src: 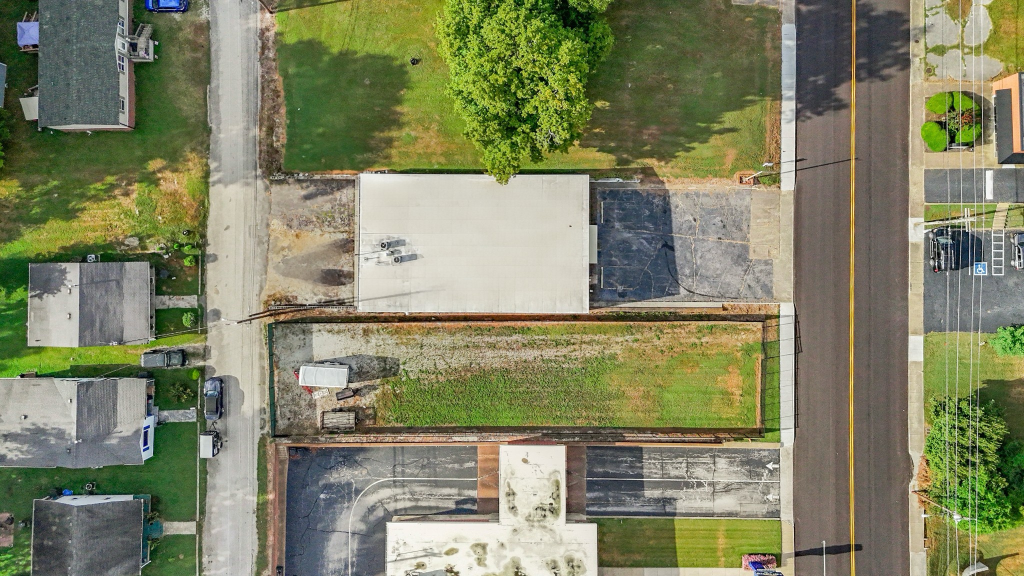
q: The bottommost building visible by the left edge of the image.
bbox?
[32,494,163,576]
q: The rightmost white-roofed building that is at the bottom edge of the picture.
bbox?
[385,444,598,576]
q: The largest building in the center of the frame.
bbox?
[354,174,597,316]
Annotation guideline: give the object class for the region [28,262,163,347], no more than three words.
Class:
house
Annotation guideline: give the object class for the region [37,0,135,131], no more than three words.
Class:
house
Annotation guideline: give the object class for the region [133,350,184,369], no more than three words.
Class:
car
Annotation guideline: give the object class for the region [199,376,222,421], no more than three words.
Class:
car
